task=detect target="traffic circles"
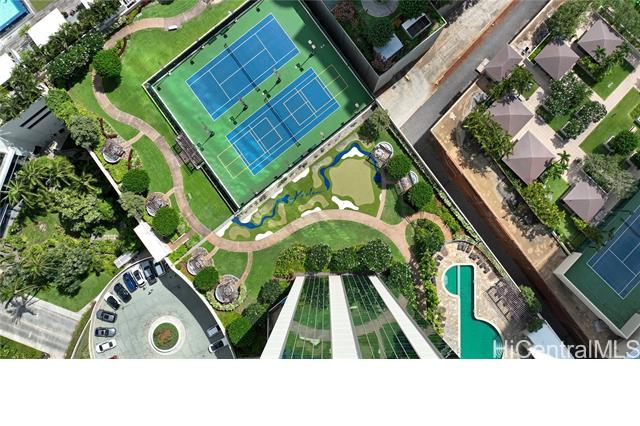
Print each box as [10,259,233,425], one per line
[148,318,184,355]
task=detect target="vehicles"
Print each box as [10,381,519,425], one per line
[139,257,158,285]
[96,327,117,338]
[121,270,141,294]
[96,309,119,322]
[97,338,119,352]
[132,265,148,288]
[102,291,123,312]
[207,338,227,354]
[112,282,134,304]
[154,257,168,277]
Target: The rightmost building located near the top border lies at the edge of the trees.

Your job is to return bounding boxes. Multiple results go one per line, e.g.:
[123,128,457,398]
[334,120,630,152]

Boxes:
[571,18,624,63]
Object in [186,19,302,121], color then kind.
blue tennis court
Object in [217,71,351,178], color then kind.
blue tennis court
